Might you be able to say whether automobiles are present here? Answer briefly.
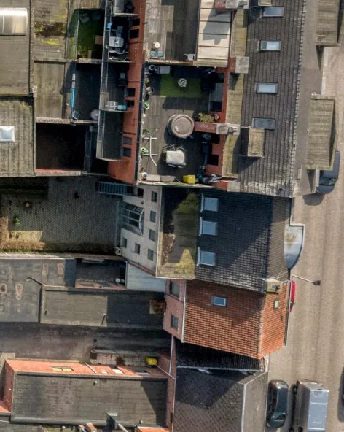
Yes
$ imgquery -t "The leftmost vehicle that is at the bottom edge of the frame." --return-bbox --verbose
[267,377,291,429]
